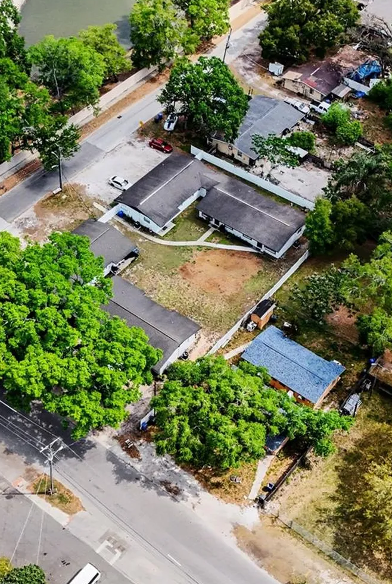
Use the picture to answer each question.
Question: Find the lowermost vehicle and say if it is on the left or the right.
left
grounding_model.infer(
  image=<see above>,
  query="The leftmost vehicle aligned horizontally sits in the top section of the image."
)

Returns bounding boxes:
[106,176,130,188]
